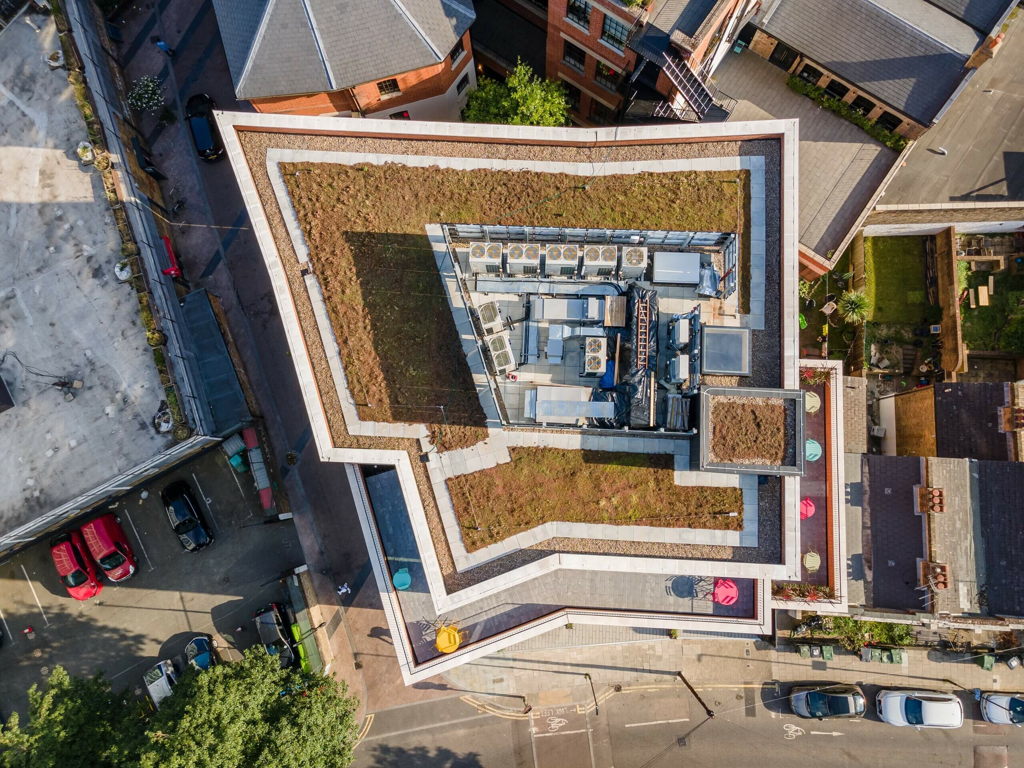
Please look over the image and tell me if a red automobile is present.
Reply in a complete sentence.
Yes, a red automobile can be made out from above.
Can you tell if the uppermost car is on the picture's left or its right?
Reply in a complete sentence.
The uppermost car sits on the left side.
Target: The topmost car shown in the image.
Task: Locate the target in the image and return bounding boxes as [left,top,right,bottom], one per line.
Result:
[186,93,229,163]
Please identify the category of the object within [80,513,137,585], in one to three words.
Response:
car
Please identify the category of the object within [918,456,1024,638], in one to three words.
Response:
house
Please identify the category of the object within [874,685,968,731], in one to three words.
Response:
car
